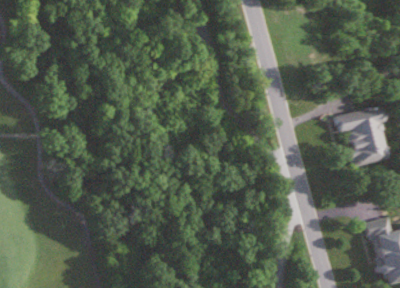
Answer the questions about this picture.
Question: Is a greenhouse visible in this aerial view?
No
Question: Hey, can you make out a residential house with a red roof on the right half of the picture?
No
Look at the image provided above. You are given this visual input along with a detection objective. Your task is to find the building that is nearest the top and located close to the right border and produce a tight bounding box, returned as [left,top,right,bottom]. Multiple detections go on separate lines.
[334,108,391,162]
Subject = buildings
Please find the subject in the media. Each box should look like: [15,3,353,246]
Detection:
[334,108,391,162]
[366,218,400,287]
